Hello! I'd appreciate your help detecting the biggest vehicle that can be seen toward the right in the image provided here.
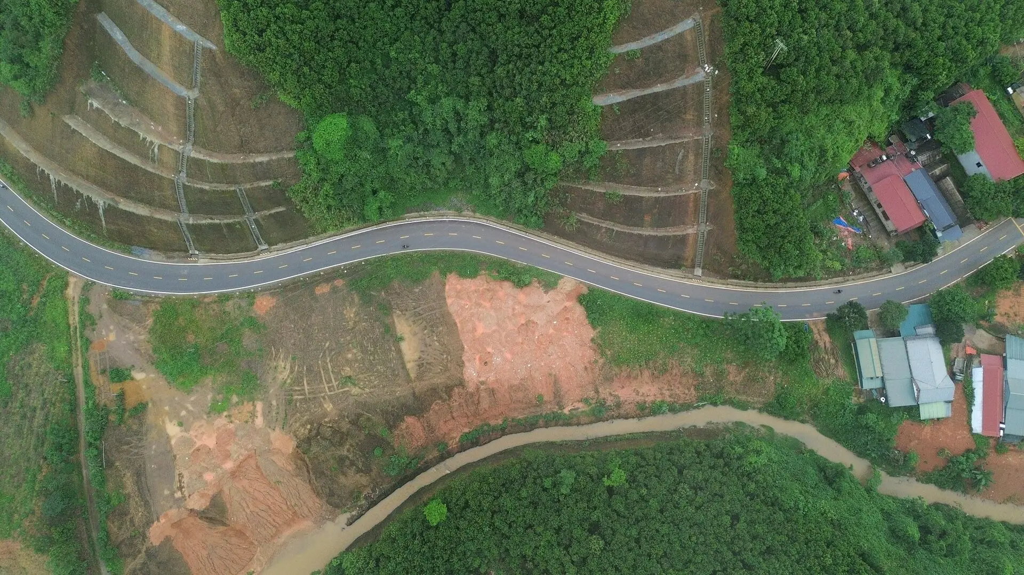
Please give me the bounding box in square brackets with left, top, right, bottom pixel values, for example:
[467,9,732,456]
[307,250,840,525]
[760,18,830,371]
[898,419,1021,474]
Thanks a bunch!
[956,356,970,381]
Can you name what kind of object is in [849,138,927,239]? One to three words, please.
house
